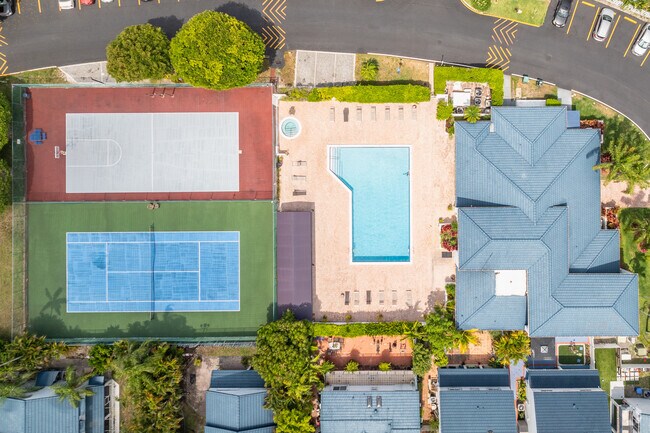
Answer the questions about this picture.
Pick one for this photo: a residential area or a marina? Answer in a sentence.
What you see here is a residential area.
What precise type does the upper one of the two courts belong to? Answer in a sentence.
The upper one of the two courts is a basketball court.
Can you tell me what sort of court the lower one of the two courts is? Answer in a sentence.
What you see as the lower one of the two courts is a tennis court.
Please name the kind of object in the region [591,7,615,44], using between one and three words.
car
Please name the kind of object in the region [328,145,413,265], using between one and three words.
swimming pool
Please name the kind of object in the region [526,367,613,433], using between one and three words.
house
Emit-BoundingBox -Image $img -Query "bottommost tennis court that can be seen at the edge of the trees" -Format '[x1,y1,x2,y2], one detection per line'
[24,202,272,338]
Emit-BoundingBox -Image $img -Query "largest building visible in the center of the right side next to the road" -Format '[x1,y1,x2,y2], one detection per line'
[453,107,639,337]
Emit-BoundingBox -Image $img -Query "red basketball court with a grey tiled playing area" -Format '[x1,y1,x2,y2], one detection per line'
[24,86,272,201]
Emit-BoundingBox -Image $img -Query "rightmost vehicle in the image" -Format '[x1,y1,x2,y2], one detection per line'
[630,20,650,57]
